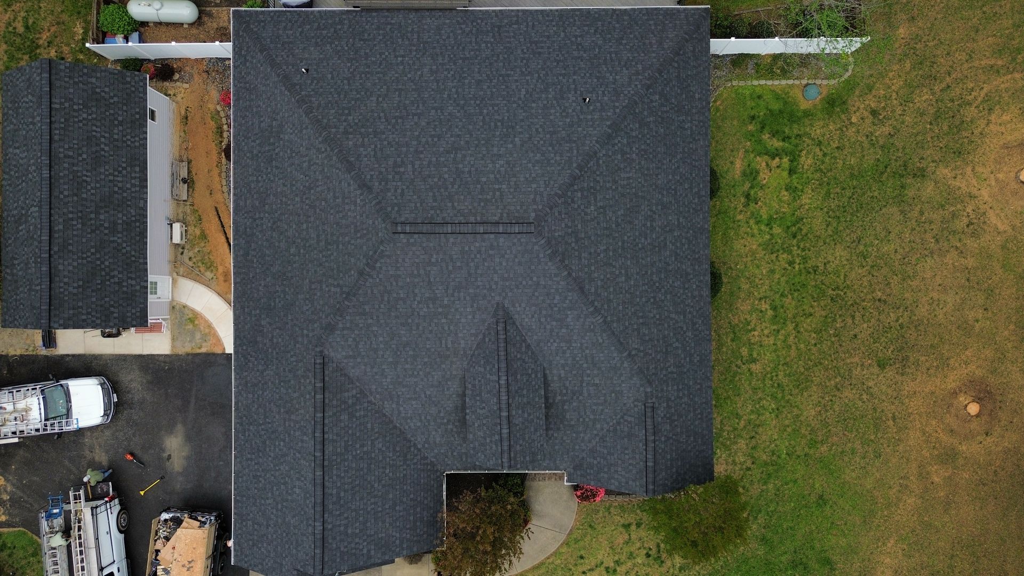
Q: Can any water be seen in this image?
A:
No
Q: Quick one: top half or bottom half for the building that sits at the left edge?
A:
top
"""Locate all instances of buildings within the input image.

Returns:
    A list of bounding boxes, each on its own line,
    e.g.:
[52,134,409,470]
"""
[1,57,171,331]
[230,6,713,576]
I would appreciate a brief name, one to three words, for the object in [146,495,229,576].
trailer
